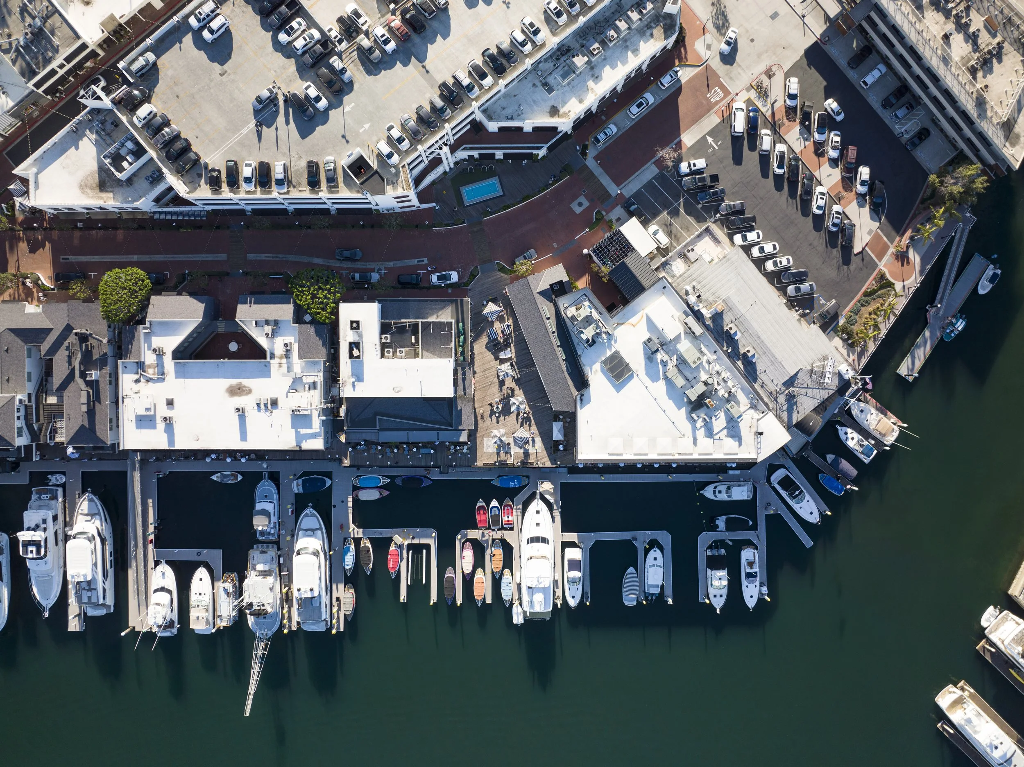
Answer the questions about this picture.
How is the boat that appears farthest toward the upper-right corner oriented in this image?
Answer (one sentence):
From this overhead view, the boat that appears farthest toward the upper-right corner appears to run on a diagonal.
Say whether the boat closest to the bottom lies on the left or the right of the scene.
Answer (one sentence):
The boat closest to the bottom is on the right side of the image.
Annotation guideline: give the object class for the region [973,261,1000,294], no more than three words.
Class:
boat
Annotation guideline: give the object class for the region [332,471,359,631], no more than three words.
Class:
pier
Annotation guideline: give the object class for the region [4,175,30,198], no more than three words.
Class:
umbrella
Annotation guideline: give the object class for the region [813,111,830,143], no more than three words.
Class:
car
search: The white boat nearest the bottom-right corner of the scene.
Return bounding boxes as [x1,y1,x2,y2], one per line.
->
[926,679,1022,767]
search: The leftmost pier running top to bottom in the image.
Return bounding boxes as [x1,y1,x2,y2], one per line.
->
[65,471,85,631]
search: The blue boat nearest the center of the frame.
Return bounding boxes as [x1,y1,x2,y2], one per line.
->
[491,474,529,488]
